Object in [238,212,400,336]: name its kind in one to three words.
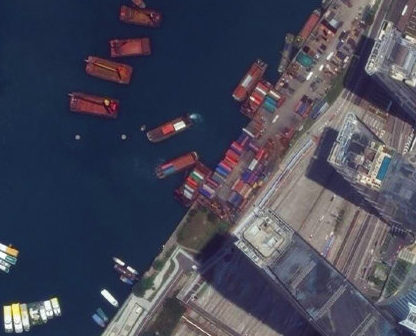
building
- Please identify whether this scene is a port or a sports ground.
port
